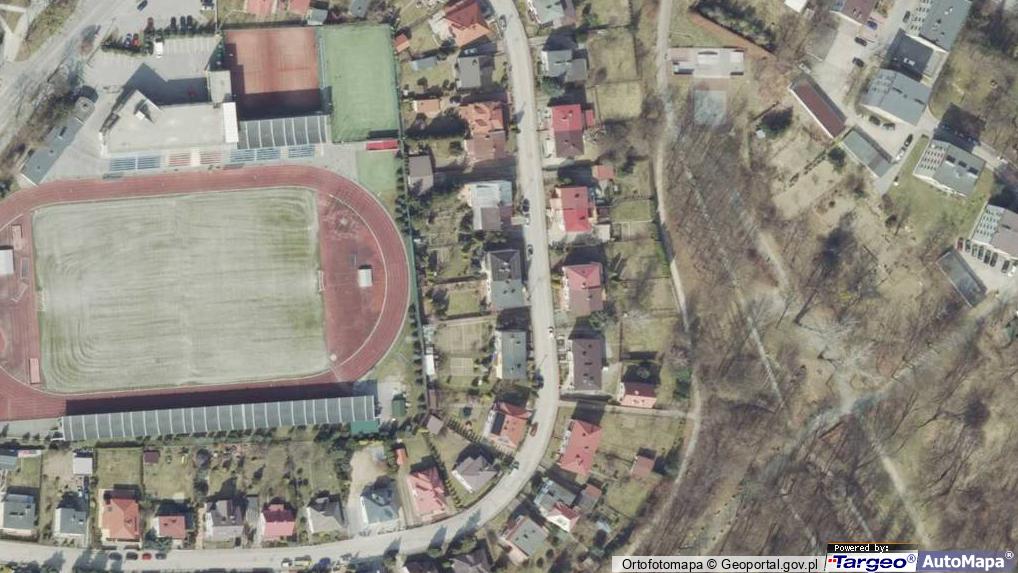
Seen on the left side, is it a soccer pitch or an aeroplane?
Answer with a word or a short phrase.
soccer pitch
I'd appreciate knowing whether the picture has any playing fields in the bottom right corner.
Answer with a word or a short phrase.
No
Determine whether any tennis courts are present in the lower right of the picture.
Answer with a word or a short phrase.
No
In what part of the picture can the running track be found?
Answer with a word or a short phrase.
left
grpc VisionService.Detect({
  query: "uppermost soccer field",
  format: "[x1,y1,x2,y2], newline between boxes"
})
[318,24,399,141]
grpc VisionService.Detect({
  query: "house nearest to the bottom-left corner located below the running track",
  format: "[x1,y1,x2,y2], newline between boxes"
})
[0,491,37,529]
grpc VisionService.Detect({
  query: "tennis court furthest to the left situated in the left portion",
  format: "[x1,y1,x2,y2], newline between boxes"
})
[225,27,277,120]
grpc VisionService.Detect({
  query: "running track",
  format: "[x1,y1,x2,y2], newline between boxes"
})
[0,166,412,424]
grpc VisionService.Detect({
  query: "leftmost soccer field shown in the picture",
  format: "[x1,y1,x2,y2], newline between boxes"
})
[33,188,329,391]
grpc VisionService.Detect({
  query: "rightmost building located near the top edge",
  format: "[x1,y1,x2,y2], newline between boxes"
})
[905,0,972,53]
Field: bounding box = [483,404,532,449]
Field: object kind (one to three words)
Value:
house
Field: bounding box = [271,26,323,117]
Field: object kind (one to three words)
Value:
tennis court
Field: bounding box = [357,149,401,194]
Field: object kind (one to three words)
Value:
sports field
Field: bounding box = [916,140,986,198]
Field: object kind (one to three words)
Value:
building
